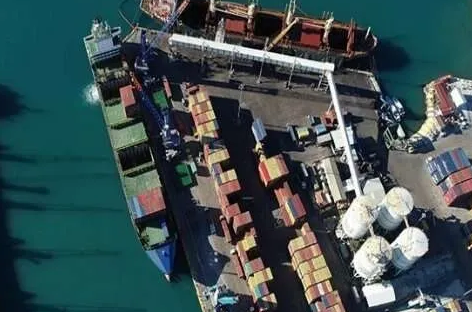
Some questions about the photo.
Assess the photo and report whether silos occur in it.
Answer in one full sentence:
Yes, there's a silo down there.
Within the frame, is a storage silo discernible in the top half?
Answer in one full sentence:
No, there is no storage silo in the top half.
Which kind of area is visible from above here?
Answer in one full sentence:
The picture captures a port.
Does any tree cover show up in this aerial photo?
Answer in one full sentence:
No, there's no tree cover in this view.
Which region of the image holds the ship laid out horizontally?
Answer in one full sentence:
The ship laid out horizontally is in the top part of the image.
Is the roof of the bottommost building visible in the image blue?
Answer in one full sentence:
No, from above the roof of the bottommost building looks white.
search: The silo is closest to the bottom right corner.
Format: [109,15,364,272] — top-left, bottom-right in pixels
[389,227,431,270]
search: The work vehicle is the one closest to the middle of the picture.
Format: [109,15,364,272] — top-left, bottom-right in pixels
[251,138,268,157]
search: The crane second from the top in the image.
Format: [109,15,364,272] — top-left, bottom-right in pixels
[128,69,187,160]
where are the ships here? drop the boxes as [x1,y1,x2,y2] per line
[87,23,199,293]
[126,0,379,77]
